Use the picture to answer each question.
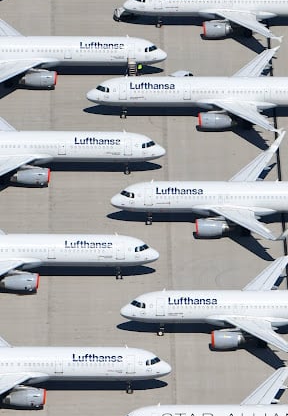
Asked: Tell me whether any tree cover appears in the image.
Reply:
No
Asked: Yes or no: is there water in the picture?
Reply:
No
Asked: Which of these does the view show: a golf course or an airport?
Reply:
airport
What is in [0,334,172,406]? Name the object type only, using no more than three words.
airplane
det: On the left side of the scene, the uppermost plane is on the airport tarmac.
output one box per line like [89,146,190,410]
[0,16,166,87]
